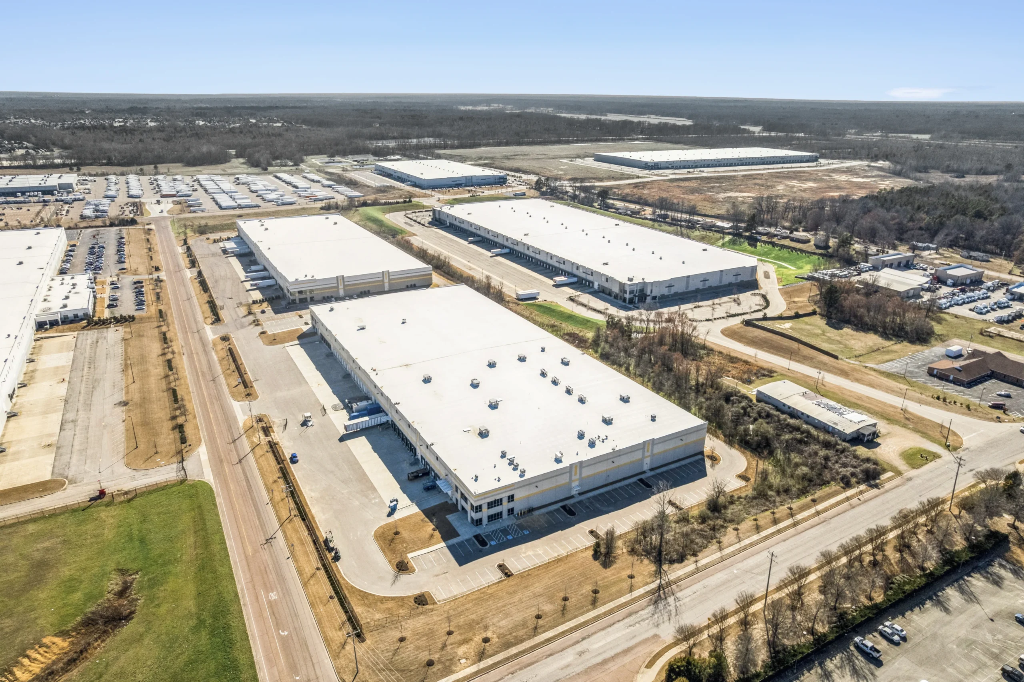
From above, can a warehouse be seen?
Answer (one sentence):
Yes, looking at the shot, I can spot a warehouse.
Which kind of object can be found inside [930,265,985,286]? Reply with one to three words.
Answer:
building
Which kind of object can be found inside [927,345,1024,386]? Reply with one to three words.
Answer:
building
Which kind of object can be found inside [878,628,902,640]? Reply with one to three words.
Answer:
vehicle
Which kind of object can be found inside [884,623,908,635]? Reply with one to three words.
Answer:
vehicle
